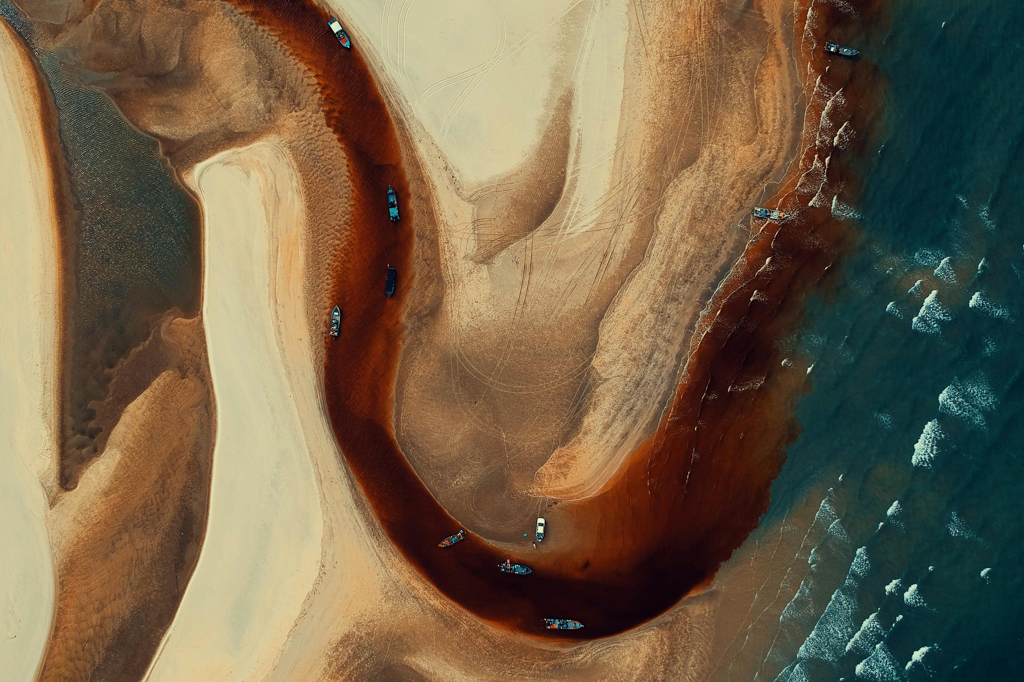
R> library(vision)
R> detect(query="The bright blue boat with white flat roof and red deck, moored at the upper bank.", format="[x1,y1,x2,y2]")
[327,16,349,46]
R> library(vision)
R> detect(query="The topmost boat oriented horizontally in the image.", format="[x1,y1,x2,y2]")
[825,40,862,53]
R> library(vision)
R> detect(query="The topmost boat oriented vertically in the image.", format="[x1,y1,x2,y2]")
[387,185,399,220]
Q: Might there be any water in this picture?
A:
Yes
